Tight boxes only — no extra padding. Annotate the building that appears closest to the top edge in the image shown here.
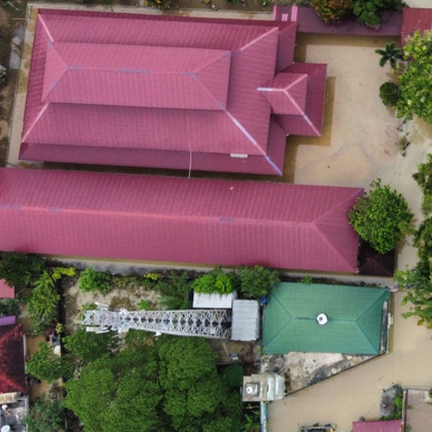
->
[19,8,327,177]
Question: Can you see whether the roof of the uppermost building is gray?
No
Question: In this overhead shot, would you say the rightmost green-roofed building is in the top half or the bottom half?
bottom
